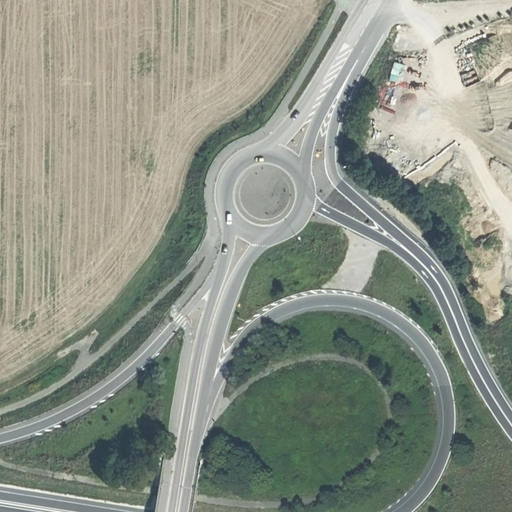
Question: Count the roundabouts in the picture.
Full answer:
In total, 1 roundabout can be seen.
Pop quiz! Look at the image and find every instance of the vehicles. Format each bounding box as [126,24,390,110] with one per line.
[290,109,300,120]
[226,213,232,225]
[255,158,265,163]
[222,245,228,256]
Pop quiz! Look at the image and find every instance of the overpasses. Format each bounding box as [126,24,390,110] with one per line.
[154,452,203,512]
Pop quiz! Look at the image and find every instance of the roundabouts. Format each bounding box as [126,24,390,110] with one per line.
[214,136,316,262]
